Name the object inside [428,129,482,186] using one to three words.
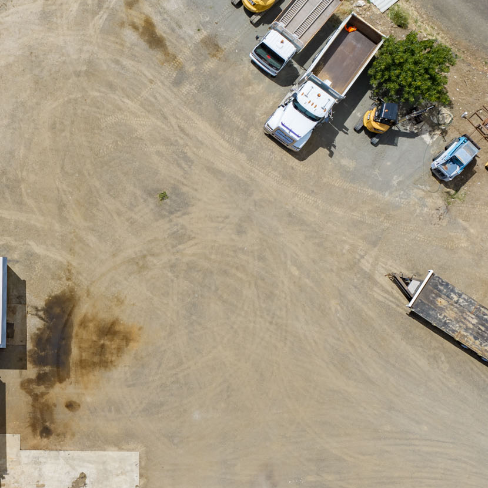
work vehicle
